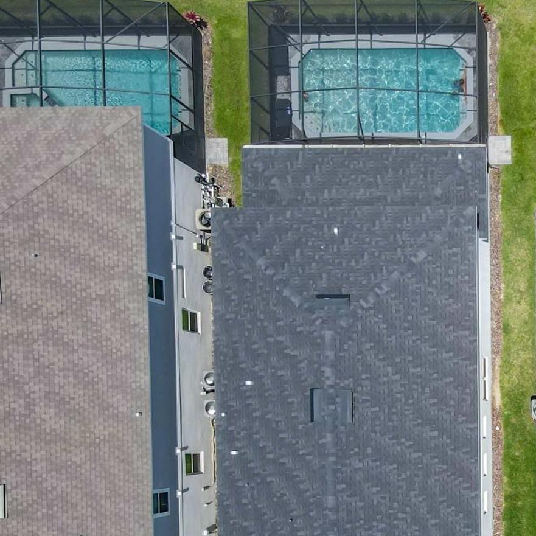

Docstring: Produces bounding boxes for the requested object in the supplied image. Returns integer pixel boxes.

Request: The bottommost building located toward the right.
[212,143,491,536]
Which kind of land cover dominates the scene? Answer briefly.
buildings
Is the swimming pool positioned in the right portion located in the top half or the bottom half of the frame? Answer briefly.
top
